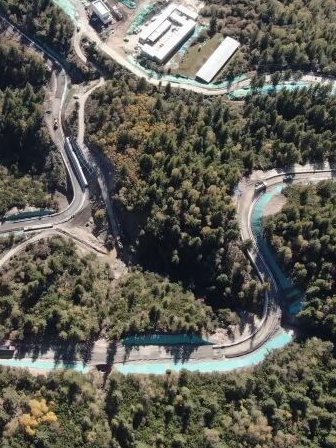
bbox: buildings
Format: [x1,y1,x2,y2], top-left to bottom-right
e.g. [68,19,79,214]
[92,0,112,23]
[195,36,240,85]
[139,2,199,63]
[62,138,90,188]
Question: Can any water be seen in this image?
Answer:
No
